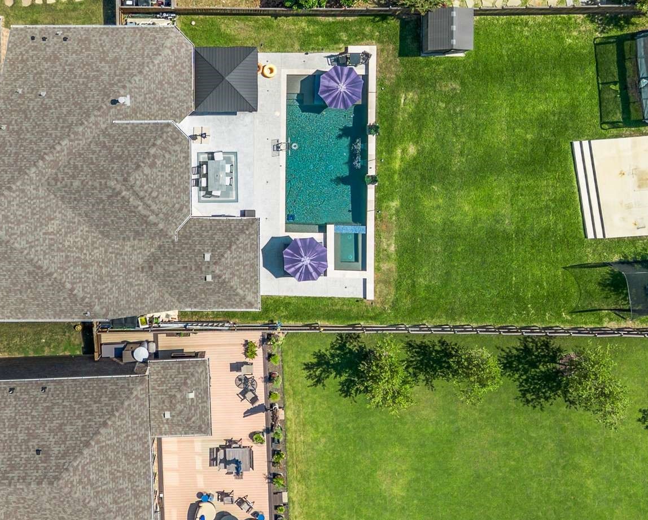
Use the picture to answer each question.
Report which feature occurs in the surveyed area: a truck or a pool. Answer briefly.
pool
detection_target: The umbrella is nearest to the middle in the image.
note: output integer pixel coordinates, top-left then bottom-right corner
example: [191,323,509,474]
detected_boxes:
[282,236,327,282]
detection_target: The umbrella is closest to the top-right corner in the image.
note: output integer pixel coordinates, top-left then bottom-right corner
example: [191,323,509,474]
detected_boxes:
[317,65,364,111]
